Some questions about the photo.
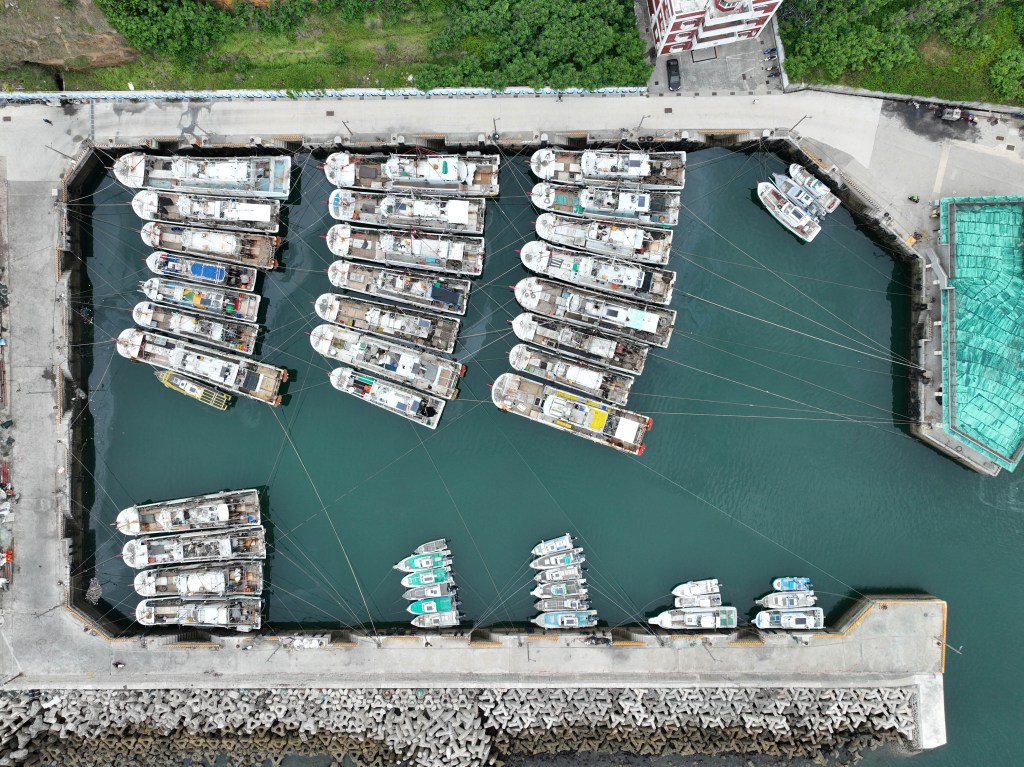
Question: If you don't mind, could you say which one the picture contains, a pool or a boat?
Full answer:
I can see a boat in this picture.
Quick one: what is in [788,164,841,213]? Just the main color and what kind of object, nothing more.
white boat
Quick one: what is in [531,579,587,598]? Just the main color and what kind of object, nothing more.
white boat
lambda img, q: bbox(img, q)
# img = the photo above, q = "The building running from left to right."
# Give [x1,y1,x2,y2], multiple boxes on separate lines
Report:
[647,0,785,58]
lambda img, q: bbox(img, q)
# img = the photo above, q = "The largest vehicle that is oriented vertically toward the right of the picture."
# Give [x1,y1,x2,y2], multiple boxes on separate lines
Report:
[666,56,683,89]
